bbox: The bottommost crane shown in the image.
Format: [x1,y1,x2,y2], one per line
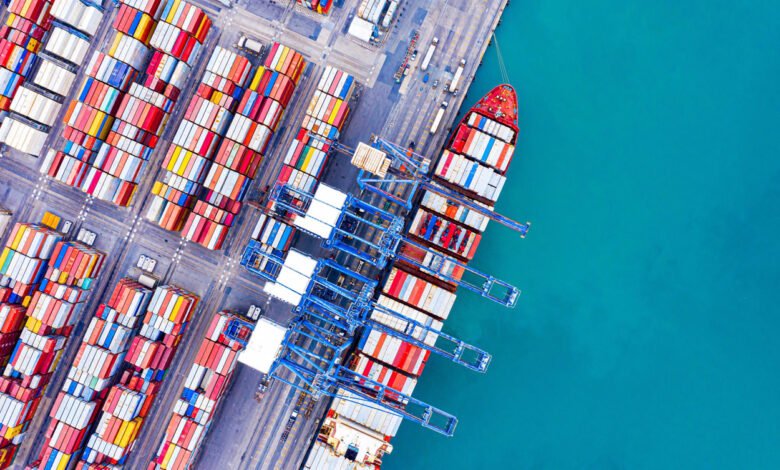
[209,312,463,438]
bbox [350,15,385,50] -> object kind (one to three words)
shed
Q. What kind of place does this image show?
port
